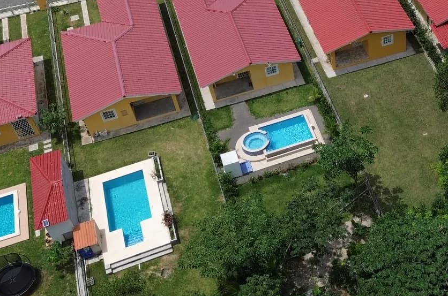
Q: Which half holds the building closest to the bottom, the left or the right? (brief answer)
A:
left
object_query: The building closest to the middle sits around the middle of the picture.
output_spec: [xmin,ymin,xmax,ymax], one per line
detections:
[220,150,242,175]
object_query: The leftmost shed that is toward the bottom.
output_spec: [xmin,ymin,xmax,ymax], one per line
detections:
[30,150,76,242]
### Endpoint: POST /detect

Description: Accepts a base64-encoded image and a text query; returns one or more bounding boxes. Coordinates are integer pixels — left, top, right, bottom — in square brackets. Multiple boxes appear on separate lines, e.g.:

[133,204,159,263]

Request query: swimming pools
[0,183,29,249]
[234,110,328,175]
[88,160,180,278]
